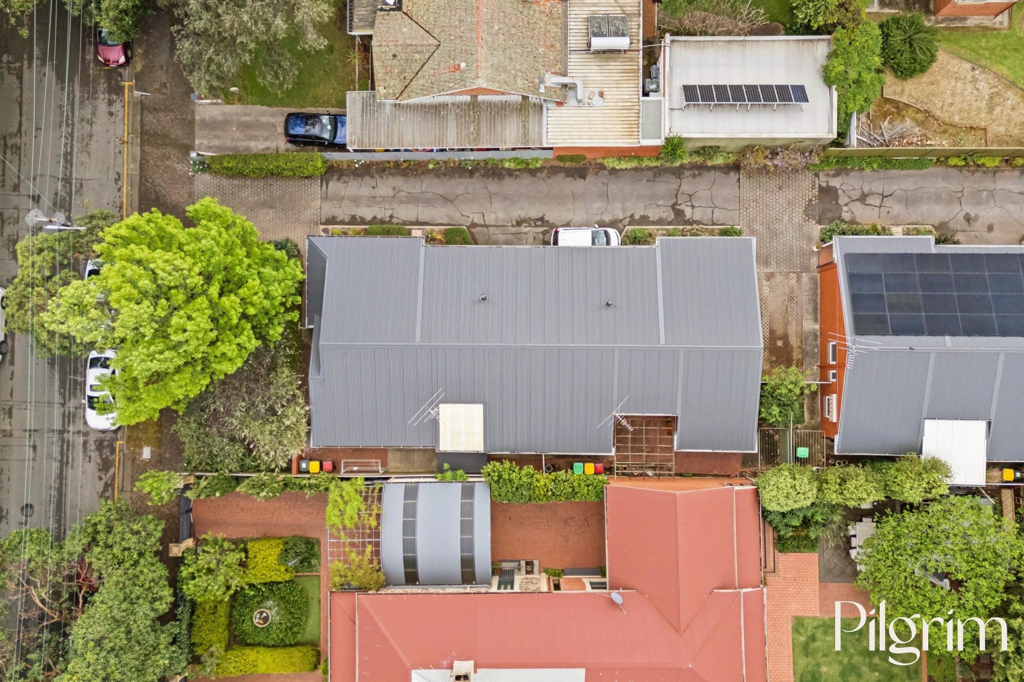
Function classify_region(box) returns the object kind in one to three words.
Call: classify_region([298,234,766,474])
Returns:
house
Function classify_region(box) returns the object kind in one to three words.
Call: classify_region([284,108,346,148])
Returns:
car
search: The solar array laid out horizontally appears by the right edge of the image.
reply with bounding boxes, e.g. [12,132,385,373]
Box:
[844,252,1024,337]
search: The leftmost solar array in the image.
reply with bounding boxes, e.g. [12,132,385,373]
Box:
[669,84,808,111]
